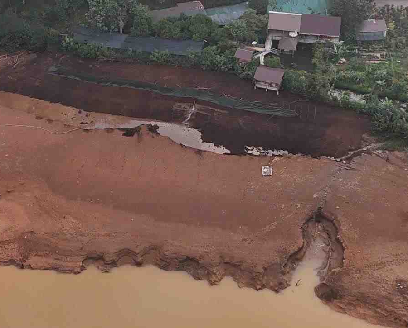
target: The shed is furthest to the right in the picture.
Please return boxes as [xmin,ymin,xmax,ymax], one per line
[356,19,386,45]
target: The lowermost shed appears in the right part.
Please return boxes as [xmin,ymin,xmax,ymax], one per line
[254,66,284,102]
